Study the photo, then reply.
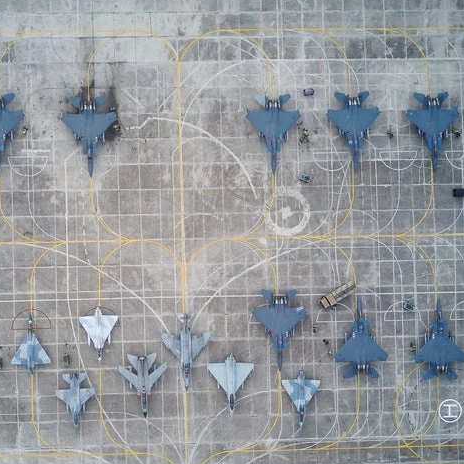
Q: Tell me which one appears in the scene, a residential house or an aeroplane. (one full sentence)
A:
There is an aeroplane in the scene.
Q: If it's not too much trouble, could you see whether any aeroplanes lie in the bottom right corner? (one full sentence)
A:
Yes, an aeroplane can be seen in the bottom right corner.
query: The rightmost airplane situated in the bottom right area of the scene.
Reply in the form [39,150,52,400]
[413,300,464,380]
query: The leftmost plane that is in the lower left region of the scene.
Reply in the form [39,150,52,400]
[11,312,51,373]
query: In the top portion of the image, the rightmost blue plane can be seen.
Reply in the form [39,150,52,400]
[406,90,462,170]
